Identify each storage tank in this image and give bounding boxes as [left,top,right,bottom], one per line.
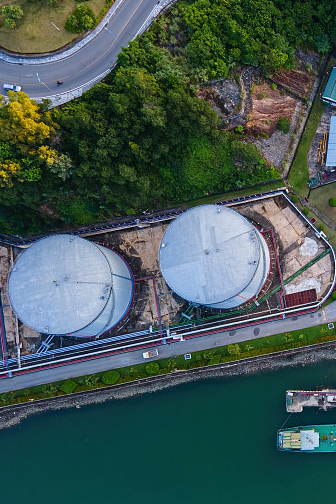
[7,232,140,342]
[158,202,276,309]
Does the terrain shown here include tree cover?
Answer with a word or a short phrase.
Yes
